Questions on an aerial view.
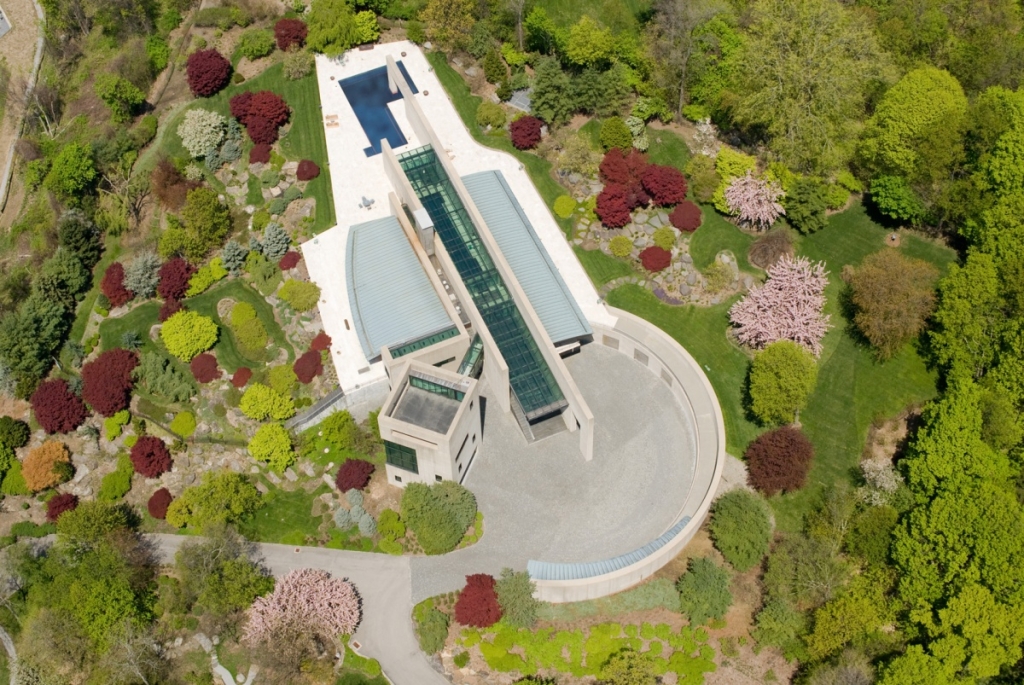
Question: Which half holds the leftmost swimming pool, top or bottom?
top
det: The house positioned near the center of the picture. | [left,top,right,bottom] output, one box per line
[348,55,594,503]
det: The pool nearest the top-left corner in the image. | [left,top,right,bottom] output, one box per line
[340,62,418,156]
